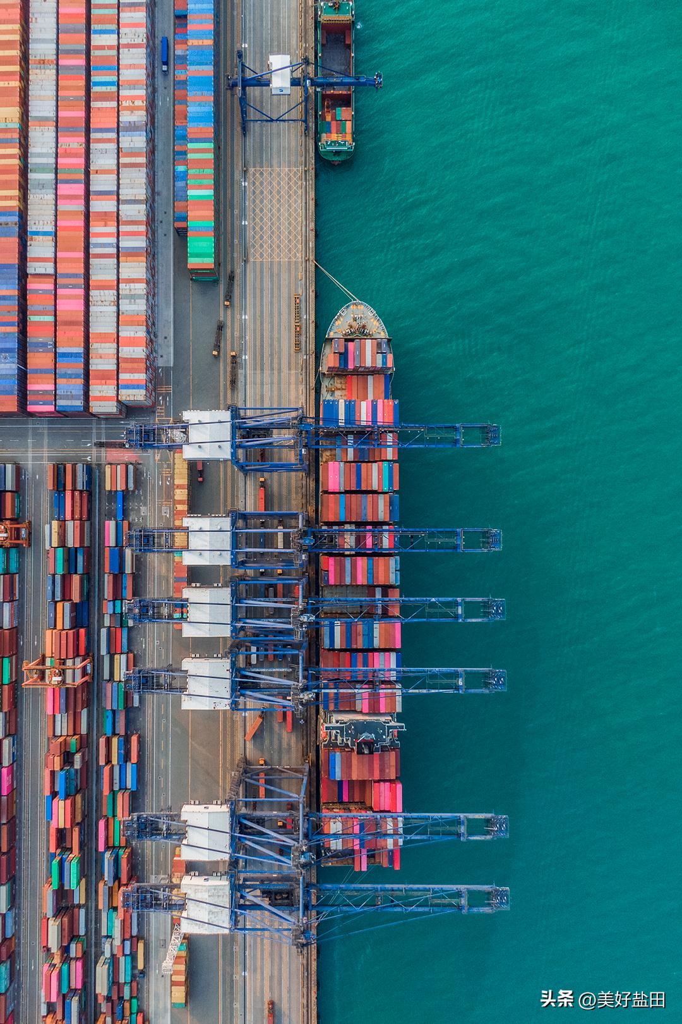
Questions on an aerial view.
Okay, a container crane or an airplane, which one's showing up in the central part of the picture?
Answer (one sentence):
There is a container crane in the central part of the picture.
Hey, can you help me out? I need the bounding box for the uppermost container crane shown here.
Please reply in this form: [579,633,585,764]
[224,45,383,143]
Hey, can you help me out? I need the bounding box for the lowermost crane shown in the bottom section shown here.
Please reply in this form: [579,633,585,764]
[123,819,510,948]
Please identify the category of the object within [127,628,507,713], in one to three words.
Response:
container crane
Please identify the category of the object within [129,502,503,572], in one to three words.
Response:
container crane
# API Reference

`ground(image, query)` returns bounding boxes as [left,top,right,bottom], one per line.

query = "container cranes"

[126,750,509,870]
[224,45,383,143]
[0,519,29,548]
[129,502,503,572]
[20,652,94,688]
[123,819,510,948]
[127,628,507,713]
[127,398,502,485]
[129,570,507,642]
